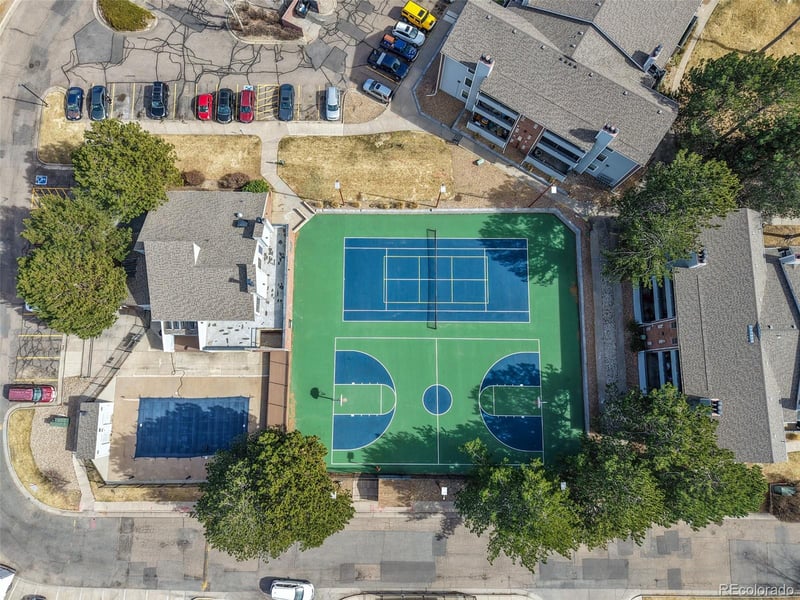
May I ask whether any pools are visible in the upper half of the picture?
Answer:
No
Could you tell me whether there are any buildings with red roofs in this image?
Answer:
No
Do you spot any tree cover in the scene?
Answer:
Yes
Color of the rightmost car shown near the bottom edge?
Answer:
white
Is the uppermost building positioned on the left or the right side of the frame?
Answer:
right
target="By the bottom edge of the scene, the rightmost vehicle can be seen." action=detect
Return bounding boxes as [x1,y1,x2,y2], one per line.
[270,578,315,600]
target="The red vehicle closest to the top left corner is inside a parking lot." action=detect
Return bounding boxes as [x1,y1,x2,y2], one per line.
[195,92,213,123]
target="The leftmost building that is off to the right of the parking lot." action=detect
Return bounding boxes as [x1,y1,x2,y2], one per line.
[431,0,705,190]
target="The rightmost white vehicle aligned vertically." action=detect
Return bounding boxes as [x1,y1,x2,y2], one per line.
[323,85,341,122]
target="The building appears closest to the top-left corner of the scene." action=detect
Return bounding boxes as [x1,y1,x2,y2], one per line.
[119,191,288,354]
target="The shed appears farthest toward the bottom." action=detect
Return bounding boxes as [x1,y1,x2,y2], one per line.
[77,402,113,463]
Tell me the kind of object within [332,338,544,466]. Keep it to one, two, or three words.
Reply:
basketball court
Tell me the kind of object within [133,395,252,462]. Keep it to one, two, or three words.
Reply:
swimming pool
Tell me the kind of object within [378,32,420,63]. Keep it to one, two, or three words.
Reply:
truck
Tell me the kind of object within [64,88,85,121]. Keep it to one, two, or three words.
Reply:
car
